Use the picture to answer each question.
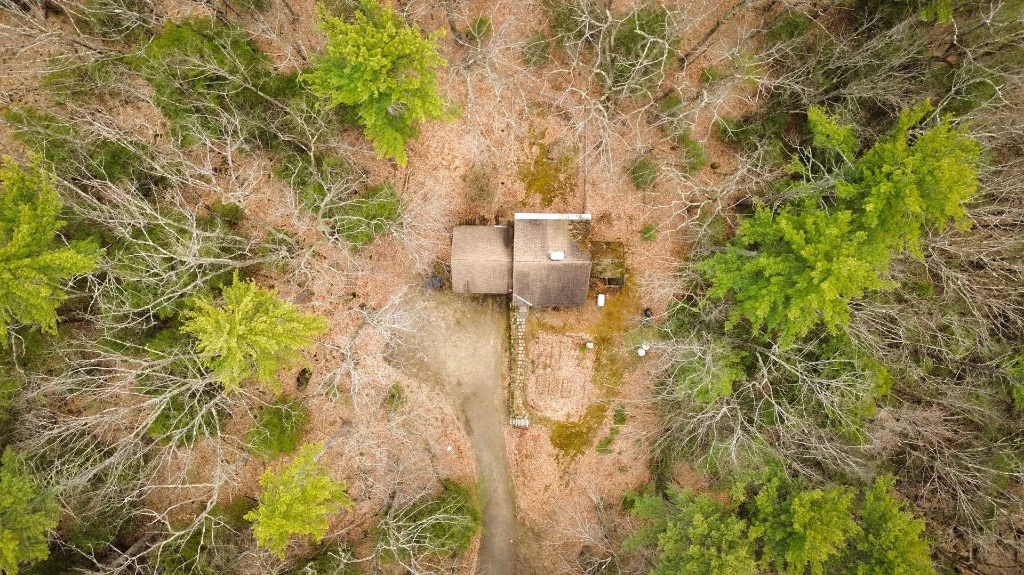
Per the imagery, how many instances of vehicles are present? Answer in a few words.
0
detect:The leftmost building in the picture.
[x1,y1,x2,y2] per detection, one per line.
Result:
[450,224,513,295]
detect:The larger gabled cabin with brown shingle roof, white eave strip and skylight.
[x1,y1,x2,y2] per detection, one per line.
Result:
[513,215,592,307]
